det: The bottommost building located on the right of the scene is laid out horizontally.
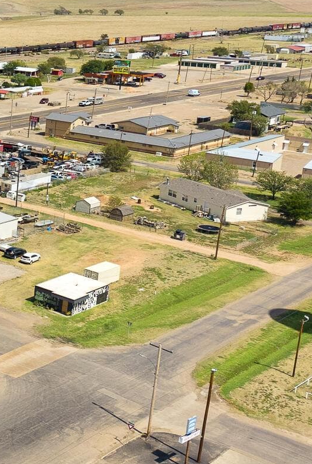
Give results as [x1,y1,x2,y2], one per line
[158,178,271,222]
